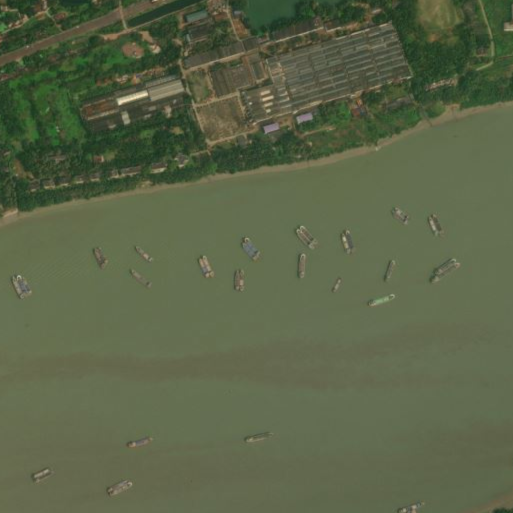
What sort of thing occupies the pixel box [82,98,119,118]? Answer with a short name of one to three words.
building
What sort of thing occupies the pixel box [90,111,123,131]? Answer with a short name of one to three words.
shed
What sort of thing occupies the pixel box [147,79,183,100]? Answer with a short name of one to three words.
building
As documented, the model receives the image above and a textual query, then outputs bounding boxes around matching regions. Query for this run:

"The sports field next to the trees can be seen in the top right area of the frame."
[416,0,464,31]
